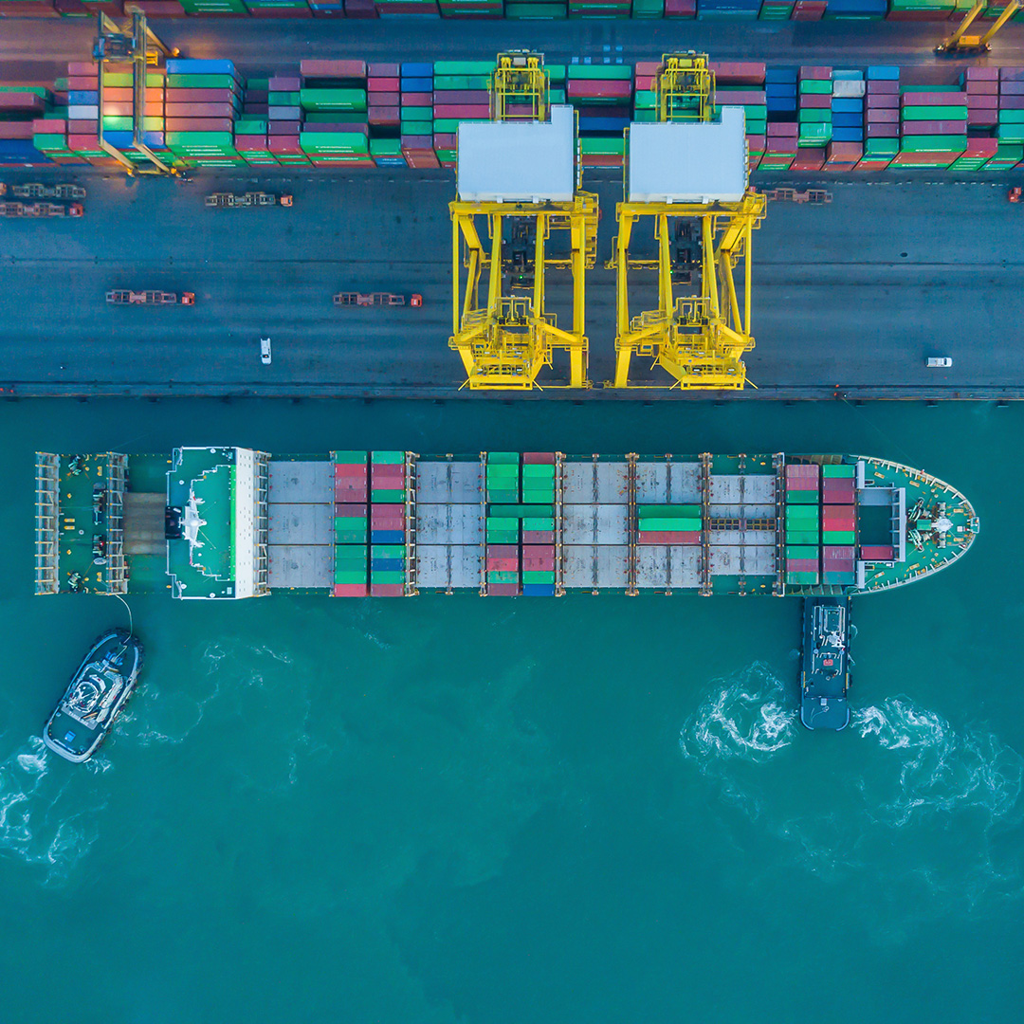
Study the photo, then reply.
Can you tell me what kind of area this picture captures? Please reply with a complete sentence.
What you see here is a port.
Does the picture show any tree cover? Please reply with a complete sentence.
No, there is no tree cover in the image.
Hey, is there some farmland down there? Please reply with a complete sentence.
No, farmland can't be seen anywhere here.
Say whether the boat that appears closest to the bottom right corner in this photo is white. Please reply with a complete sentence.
No, from above the boat that appears closest to the bottom right corner looks blue.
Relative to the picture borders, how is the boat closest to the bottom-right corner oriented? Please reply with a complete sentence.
What the image shows is the boat closest to the bottom-right corner lying vertically.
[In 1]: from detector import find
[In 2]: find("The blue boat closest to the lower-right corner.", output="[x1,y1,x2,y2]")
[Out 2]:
[796,594,855,732]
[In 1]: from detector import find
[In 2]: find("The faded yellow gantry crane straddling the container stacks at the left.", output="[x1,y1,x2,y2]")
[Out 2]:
[83,1,179,177]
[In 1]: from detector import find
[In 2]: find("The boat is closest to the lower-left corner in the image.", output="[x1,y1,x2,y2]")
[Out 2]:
[43,630,142,764]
